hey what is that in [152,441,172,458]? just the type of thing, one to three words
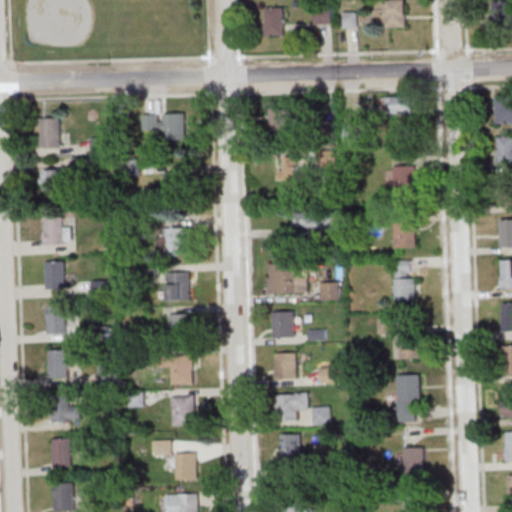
building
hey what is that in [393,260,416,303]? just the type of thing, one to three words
house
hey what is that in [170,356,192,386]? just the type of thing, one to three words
house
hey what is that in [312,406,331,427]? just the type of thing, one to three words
building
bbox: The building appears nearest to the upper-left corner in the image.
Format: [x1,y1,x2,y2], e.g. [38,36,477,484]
[38,118,60,148]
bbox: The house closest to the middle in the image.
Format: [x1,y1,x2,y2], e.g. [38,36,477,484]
[266,264,308,295]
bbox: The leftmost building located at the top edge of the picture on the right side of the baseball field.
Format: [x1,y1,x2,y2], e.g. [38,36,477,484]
[263,8,284,36]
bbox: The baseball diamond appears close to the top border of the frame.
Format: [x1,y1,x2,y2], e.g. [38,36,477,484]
[14,0,206,60]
